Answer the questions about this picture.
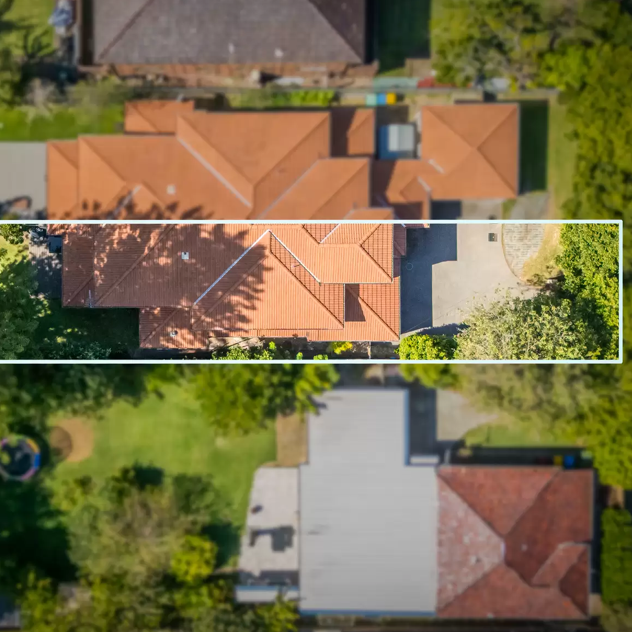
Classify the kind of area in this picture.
residential area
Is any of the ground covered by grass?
Yes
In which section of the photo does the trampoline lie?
bottom left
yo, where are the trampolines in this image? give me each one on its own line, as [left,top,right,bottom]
[0,436,40,486]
